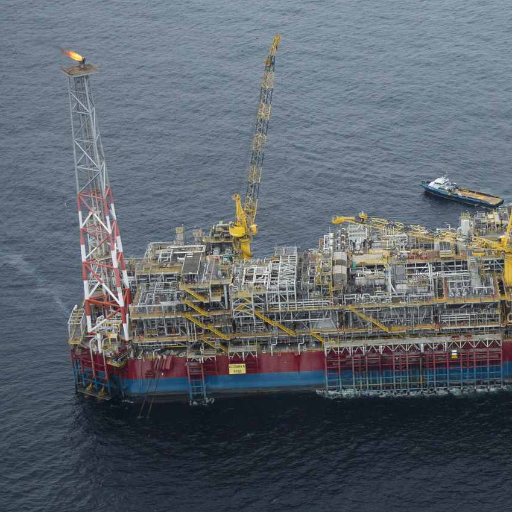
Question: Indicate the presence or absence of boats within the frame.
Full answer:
Yes, you can see a boat in this photo.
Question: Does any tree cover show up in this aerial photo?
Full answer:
No, there is no tree cover in the image.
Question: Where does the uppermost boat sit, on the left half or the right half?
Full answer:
You can find the uppermost boat on the right side of the picture.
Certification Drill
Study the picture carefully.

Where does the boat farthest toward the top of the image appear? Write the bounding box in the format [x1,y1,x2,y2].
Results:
[419,172,504,211]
